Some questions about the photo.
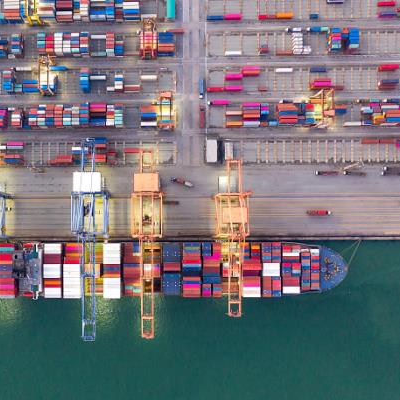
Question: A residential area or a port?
port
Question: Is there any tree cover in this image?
No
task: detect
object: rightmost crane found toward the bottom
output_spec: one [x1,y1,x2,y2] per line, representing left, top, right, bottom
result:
[204,161,252,320]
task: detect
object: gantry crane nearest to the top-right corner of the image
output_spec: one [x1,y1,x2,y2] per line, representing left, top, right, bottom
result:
[312,89,338,132]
